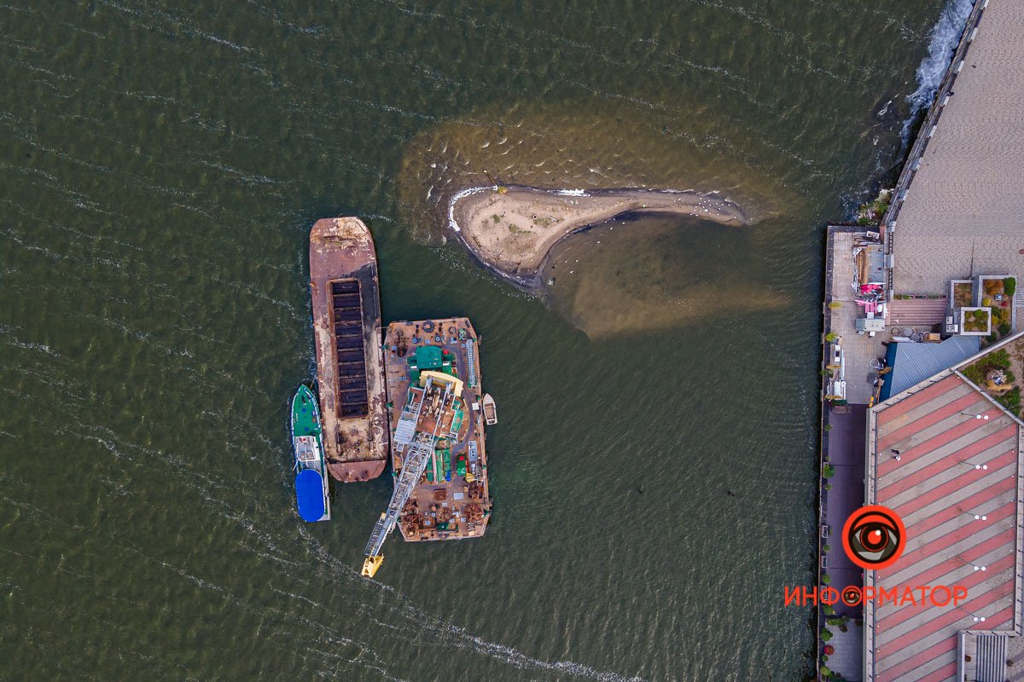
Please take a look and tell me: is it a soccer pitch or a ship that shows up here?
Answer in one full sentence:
Of the two, only a ship appears.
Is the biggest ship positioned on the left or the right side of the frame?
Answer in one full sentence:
The biggest ship appears in the left half of the scene.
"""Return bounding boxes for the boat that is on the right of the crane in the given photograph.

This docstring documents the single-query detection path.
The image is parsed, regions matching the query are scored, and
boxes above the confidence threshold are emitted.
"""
[483,393,497,424]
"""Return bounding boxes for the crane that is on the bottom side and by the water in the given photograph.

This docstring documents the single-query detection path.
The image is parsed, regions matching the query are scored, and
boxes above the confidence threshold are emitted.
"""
[362,377,470,577]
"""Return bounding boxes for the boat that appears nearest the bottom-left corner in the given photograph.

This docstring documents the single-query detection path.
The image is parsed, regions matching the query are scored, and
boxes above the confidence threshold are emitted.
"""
[290,384,332,522]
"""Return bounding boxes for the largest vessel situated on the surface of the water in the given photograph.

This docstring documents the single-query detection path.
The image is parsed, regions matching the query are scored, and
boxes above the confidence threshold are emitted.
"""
[309,216,390,483]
